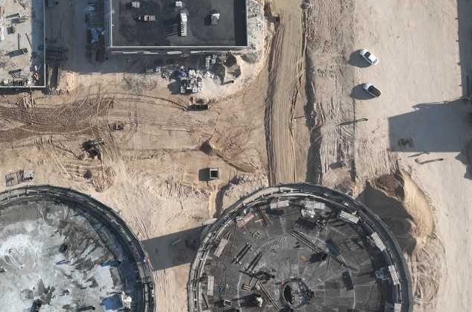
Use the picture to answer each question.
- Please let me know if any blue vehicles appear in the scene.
No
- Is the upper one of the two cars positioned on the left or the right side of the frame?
right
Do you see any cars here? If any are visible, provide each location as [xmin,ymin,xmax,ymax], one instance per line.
[358,47,381,67]
[361,82,385,100]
